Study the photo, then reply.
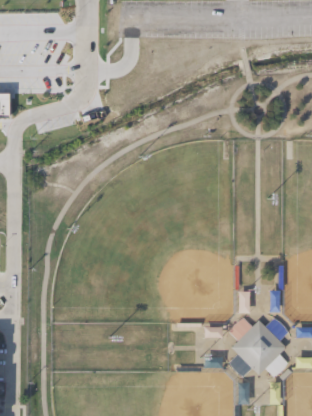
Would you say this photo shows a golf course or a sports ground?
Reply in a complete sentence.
What you see here is a sports ground.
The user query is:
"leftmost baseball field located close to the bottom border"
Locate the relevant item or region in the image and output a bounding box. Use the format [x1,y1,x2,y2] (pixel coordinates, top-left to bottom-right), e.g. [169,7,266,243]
[52,372,235,416]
